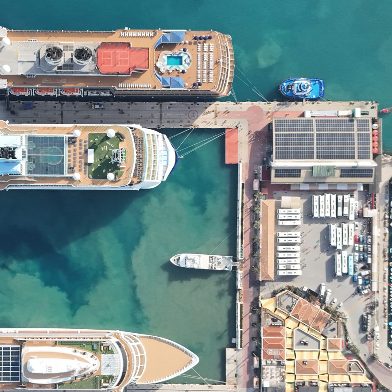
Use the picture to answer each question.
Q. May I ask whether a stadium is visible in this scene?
No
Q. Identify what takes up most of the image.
water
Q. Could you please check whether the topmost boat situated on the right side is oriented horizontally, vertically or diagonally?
horizontally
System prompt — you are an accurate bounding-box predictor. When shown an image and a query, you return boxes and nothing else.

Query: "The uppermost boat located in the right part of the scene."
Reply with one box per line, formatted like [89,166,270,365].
[278,76,326,99]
